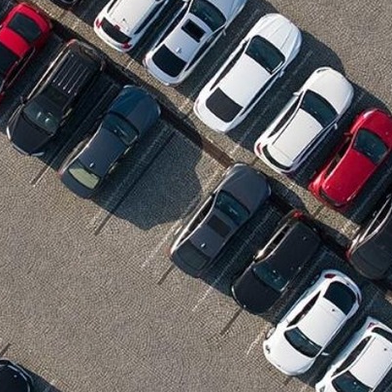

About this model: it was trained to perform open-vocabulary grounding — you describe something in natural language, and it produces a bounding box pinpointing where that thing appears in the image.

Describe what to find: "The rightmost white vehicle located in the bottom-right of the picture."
[316,317,392,392]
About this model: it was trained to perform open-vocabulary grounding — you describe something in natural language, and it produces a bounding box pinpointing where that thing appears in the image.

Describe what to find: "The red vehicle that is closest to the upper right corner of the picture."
[308,107,392,214]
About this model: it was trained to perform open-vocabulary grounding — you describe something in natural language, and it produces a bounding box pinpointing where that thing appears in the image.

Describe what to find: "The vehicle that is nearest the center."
[170,165,270,278]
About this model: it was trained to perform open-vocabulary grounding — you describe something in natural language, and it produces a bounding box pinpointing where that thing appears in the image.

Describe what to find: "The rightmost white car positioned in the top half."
[253,68,356,178]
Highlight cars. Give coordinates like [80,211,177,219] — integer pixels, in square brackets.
[346,187,392,281]
[253,68,356,178]
[264,270,364,373]
[170,165,270,278]
[316,317,392,392]
[0,359,34,392]
[7,40,108,155]
[195,15,302,132]
[93,0,175,55]
[146,0,246,87]
[0,2,52,100]
[308,107,392,214]
[230,210,327,311]
[60,88,160,199]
